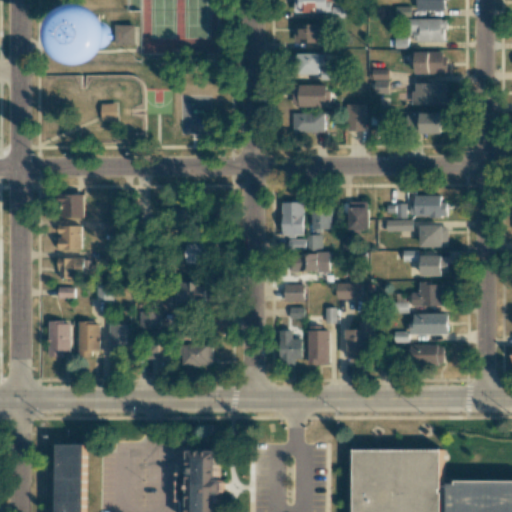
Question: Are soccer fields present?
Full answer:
No, no soccer field is visible in the scene.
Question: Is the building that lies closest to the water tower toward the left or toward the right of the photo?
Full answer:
You can find the building that lies closest to the water tower on the left side of the picture.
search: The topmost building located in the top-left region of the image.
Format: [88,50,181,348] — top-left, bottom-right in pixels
[115,26,142,46]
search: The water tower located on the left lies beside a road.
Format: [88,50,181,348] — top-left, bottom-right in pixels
[42,3,114,64]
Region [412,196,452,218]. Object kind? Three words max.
house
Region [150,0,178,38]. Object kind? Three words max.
tennis court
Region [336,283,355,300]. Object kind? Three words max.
building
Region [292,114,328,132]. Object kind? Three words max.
house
